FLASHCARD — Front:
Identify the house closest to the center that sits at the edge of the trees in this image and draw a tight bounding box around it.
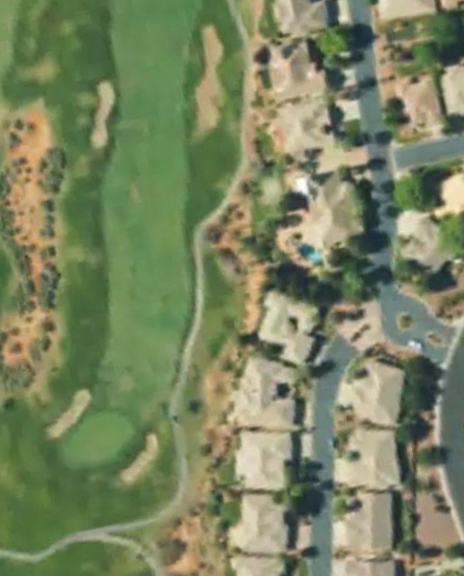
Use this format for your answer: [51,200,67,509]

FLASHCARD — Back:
[257,293,319,360]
